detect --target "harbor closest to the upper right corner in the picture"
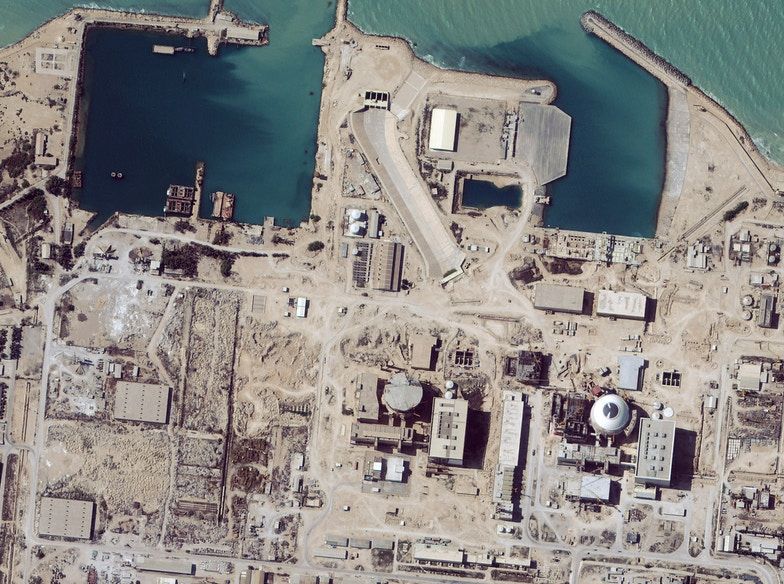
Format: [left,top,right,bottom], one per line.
[342,0,784,243]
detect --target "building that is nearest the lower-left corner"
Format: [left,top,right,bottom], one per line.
[38,496,94,540]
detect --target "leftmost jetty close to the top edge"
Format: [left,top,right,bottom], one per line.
[194,0,272,58]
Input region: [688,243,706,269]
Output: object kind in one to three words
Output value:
house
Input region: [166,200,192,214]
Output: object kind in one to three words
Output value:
ship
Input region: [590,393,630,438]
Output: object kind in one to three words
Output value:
building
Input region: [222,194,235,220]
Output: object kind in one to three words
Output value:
ship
